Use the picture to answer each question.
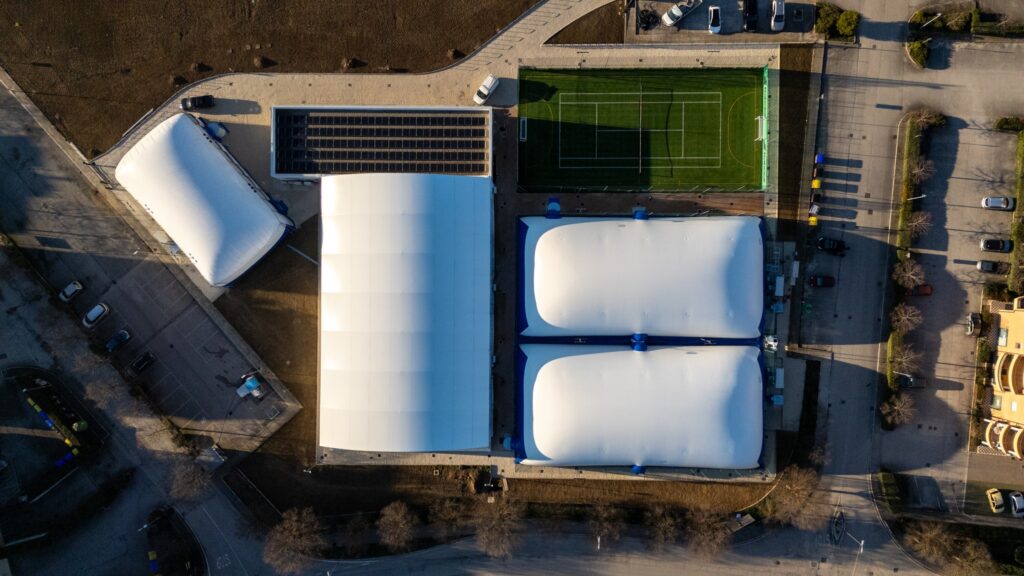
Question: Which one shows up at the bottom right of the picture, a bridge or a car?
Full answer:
Visible at the bottom right of the picture is a car.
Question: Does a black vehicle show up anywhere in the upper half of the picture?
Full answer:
Yes, the scene does show a black vehicle in the upper half of the picture.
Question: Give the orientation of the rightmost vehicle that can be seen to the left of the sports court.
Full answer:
The rightmost vehicle that can be seen to the left of the sports court has been laid out diagonally relative to the frame.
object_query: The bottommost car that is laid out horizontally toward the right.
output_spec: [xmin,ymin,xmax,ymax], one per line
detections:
[894,375,925,390]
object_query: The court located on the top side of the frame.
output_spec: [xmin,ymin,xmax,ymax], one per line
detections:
[519,67,765,191]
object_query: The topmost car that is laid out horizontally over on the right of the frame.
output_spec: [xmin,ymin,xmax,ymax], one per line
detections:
[980,195,1014,211]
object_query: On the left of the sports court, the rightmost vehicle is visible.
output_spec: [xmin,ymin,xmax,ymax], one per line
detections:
[473,74,500,105]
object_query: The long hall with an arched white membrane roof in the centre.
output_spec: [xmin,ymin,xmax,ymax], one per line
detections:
[319,173,497,452]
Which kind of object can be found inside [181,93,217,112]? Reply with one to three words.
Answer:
vehicle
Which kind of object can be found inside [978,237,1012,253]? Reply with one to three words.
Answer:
car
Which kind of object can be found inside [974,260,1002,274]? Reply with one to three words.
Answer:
car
